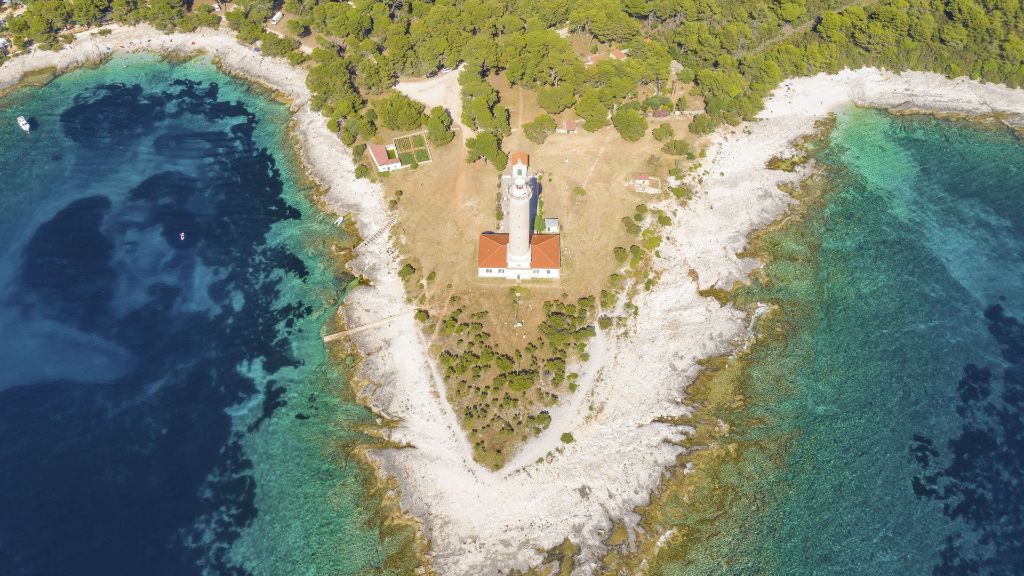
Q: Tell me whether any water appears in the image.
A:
Yes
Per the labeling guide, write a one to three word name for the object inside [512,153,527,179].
building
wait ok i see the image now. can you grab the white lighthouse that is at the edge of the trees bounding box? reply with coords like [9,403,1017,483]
[478,178,560,283]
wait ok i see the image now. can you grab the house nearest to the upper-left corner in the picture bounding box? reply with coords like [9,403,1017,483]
[373,138,403,172]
